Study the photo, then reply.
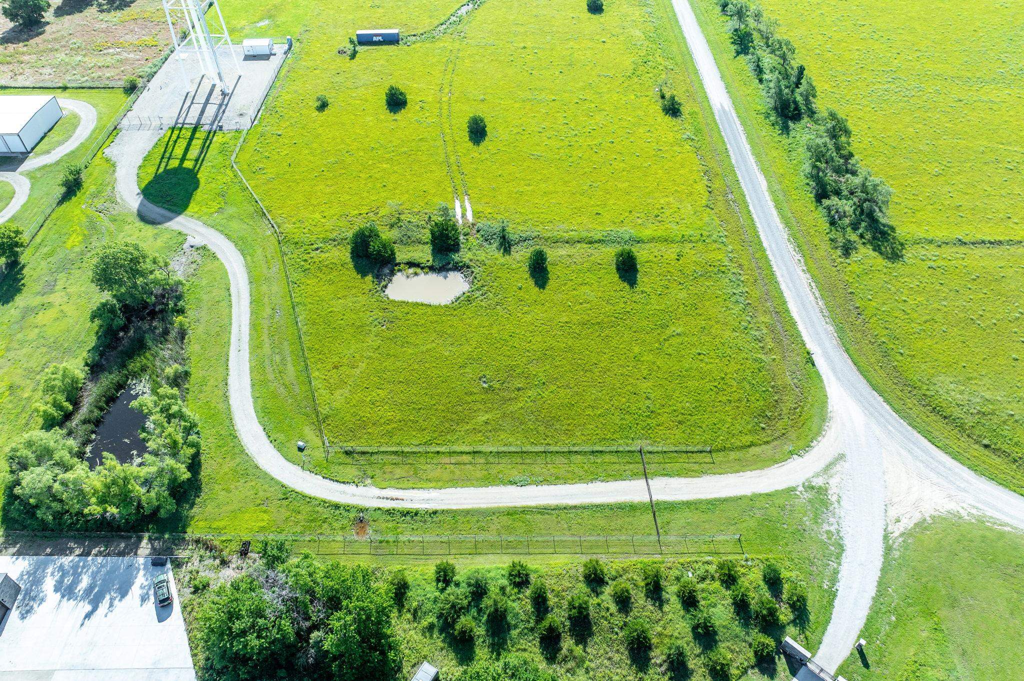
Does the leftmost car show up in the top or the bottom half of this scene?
bottom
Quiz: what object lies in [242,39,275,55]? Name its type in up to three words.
shed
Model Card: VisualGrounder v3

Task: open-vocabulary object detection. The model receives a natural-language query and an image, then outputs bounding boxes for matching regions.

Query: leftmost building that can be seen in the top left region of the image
[0,95,65,155]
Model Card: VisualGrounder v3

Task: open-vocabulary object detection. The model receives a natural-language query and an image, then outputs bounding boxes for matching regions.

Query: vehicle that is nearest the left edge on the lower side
[152,570,176,611]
